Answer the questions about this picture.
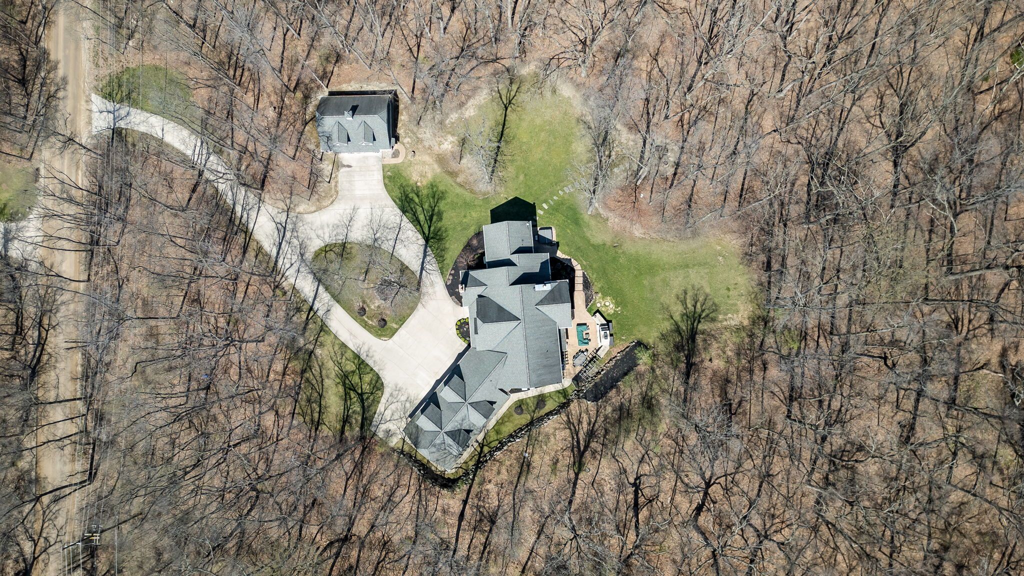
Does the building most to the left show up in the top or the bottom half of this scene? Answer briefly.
top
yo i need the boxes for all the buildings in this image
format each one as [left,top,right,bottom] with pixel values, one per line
[402,221,572,471]
[311,95,396,153]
